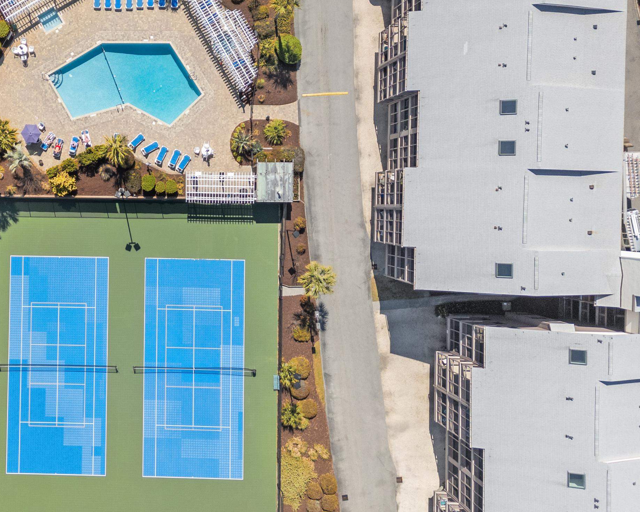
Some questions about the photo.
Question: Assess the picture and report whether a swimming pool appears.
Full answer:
Yes, there is a swimming pool in the image.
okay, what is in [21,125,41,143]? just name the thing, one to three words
umbrella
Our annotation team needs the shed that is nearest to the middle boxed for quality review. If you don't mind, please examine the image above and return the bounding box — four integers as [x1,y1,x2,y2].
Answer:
[253,159,294,201]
